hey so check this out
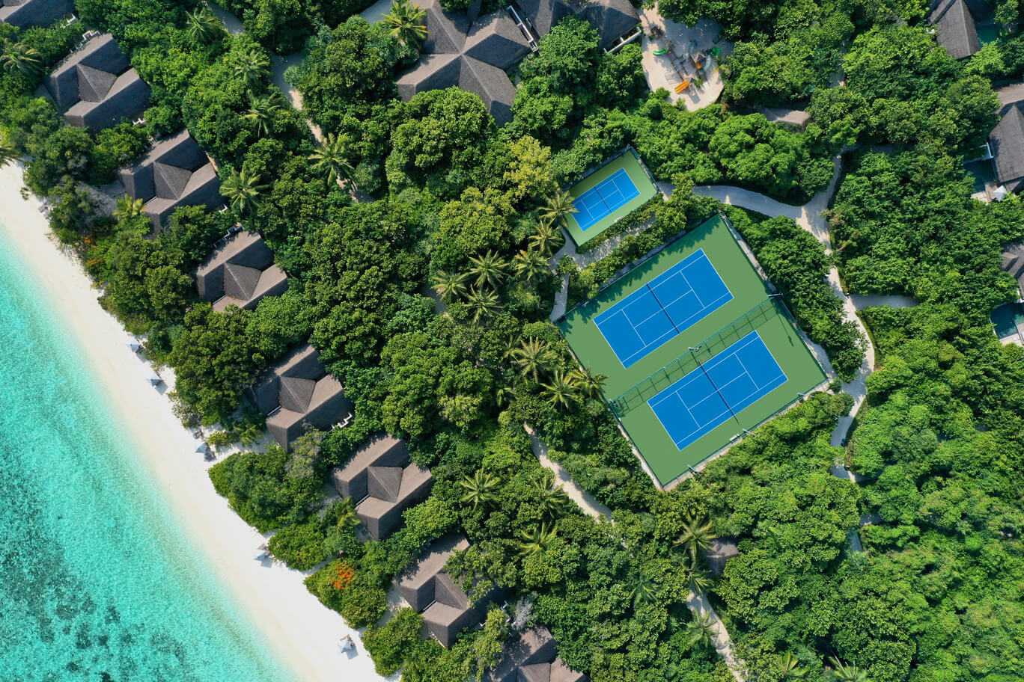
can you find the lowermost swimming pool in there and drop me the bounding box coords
[995,300,1024,339]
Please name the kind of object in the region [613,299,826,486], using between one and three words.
tennis court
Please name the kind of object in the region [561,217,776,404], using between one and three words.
tennis court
